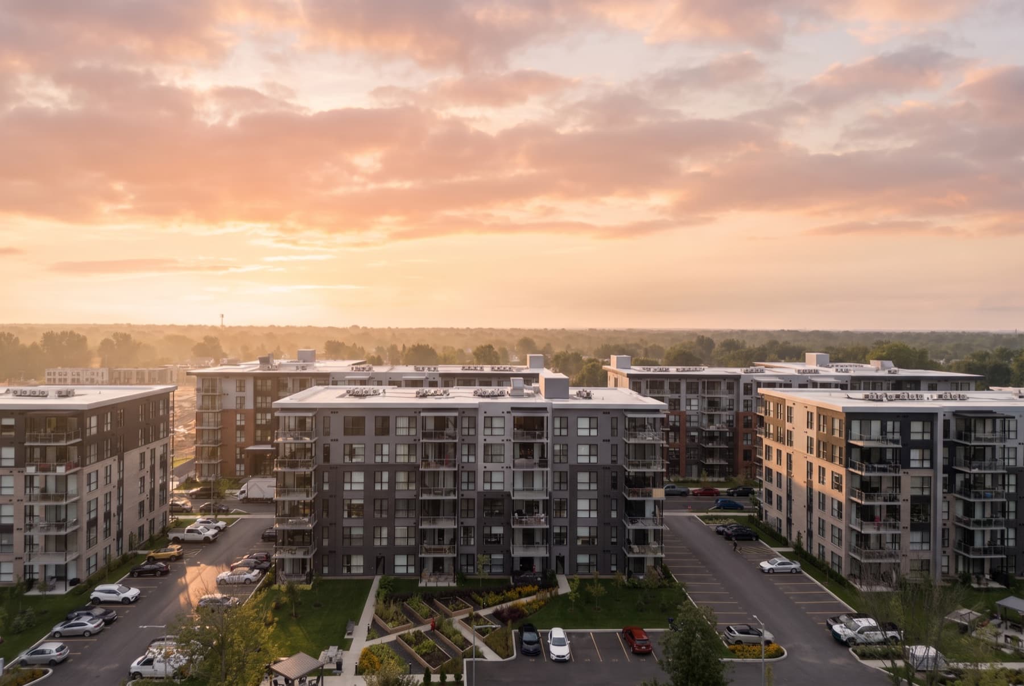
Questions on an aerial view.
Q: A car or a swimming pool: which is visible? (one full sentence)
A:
Visible in the photo is a car.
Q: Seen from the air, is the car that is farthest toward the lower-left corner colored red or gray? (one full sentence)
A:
From above, the car that is farthest toward the lower-left corner appears gray.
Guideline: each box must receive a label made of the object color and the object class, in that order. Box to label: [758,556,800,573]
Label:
gray car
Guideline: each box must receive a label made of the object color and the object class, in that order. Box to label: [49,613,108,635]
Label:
gray car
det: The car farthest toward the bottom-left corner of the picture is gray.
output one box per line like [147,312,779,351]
[14,639,74,664]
